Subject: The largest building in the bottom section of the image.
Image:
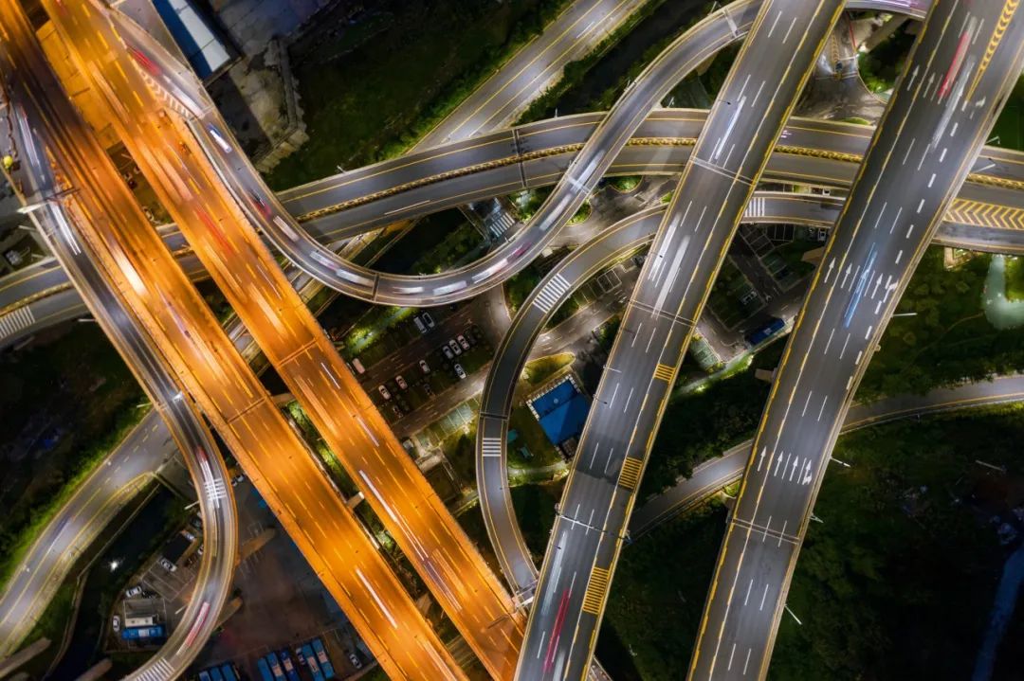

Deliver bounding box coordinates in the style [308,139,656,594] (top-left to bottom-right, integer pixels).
[525,373,591,465]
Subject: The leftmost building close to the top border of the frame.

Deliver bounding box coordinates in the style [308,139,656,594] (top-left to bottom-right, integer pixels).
[158,0,247,93]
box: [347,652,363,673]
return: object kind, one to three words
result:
car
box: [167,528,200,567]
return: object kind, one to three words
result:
shed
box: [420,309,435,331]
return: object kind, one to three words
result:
car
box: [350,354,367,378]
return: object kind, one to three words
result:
vehicle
